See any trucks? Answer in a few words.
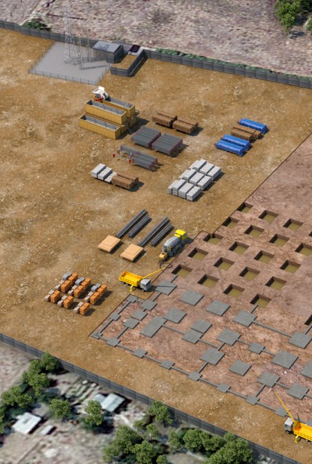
Yes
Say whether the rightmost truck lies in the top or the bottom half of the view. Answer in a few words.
bottom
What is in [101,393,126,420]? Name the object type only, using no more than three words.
shed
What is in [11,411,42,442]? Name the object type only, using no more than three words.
shed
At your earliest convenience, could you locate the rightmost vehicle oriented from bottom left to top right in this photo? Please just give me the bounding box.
[164,228,192,259]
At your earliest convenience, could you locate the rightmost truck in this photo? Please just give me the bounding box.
[275,390,312,441]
